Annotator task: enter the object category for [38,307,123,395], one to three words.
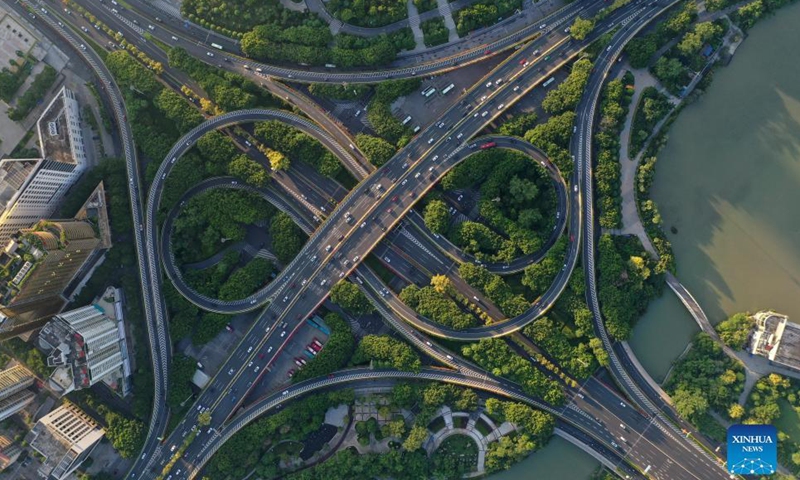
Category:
building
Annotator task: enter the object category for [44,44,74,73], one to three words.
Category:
shed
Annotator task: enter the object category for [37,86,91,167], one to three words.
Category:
building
